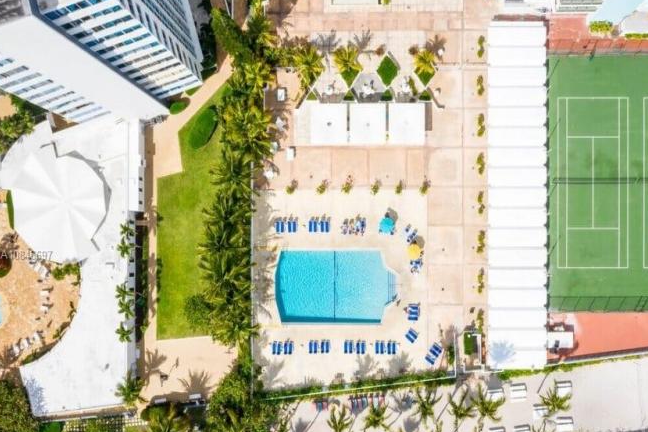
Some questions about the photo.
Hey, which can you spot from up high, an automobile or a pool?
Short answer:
pool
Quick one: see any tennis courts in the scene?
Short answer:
Yes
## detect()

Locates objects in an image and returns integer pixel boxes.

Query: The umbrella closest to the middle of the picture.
[379,216,394,234]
